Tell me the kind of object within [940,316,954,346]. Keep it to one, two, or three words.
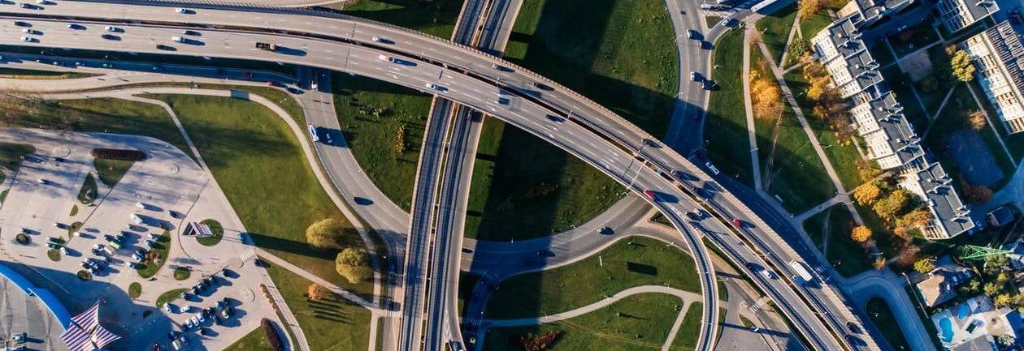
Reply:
swimming pool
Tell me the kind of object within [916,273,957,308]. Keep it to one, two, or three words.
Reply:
house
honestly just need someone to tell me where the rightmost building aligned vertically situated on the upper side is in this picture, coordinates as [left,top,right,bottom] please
[966,13,1024,146]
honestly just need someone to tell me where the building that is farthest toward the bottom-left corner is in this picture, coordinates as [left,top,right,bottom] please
[0,261,87,351]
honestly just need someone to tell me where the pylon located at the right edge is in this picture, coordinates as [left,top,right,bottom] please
[957,244,1007,260]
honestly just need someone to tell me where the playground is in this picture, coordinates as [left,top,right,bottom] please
[902,48,934,81]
